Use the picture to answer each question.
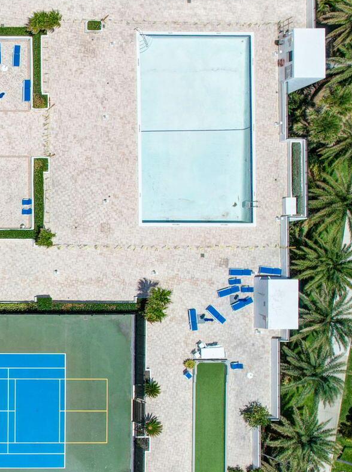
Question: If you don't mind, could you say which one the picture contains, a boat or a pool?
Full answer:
Of the two, only a pool appears.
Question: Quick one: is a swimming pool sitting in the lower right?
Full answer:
No, in the lower right there is no swimming pool.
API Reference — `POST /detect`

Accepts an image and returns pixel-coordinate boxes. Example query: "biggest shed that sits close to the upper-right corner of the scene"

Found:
[278,28,326,85]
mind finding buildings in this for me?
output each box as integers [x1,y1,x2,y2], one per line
[275,198,295,214]
[278,28,326,85]
[254,279,298,329]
